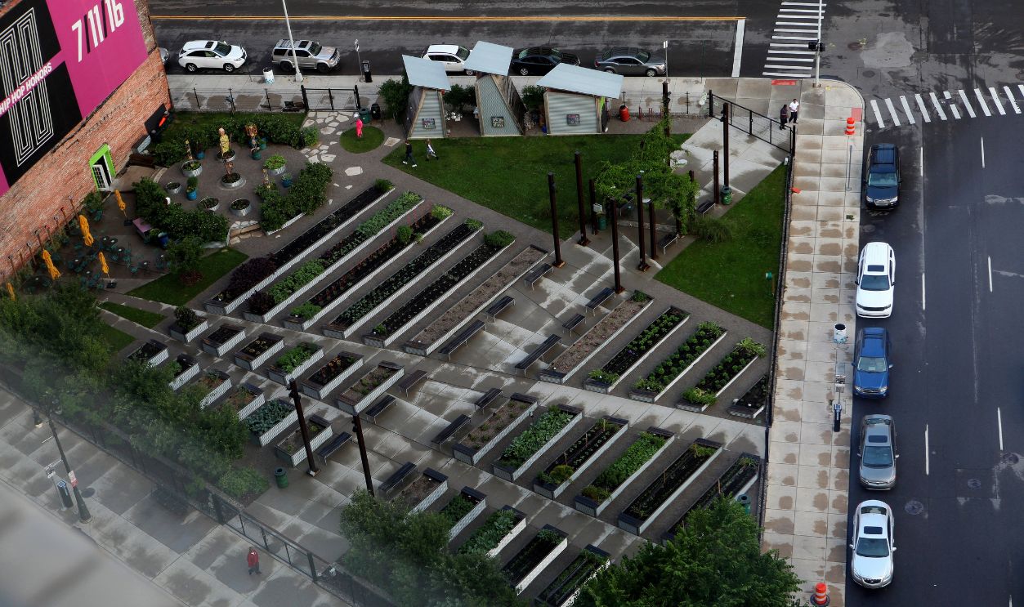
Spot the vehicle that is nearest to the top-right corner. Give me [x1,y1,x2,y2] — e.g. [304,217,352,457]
[864,144,903,206]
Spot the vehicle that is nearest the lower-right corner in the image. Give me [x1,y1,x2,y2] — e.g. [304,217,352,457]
[849,497,898,584]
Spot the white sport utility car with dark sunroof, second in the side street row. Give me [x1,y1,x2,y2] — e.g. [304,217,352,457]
[854,246,897,315]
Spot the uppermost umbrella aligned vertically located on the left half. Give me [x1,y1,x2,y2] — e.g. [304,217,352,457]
[117,190,130,225]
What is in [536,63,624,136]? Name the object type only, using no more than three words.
shed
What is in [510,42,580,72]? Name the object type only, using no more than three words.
car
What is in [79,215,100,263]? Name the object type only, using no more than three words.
umbrella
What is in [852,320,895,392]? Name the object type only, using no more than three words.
car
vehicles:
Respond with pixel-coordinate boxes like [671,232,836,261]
[176,37,247,71]
[595,42,668,73]
[418,37,475,73]
[852,320,895,392]
[857,414,902,487]
[864,144,903,206]
[510,42,580,72]
[854,246,897,315]
[158,47,170,65]
[849,497,898,584]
